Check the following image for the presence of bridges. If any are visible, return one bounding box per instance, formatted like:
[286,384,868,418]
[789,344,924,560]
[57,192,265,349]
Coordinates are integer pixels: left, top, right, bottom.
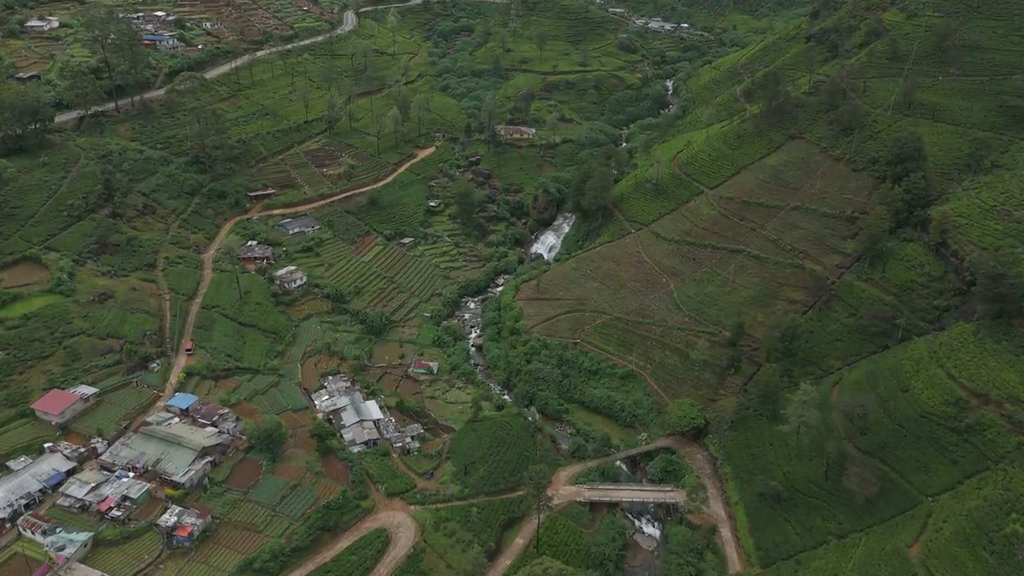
[552,481,695,507]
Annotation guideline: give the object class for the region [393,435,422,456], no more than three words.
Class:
shed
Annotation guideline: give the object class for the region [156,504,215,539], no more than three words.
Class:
house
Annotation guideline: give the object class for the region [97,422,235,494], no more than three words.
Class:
building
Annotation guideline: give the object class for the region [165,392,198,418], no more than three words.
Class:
house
